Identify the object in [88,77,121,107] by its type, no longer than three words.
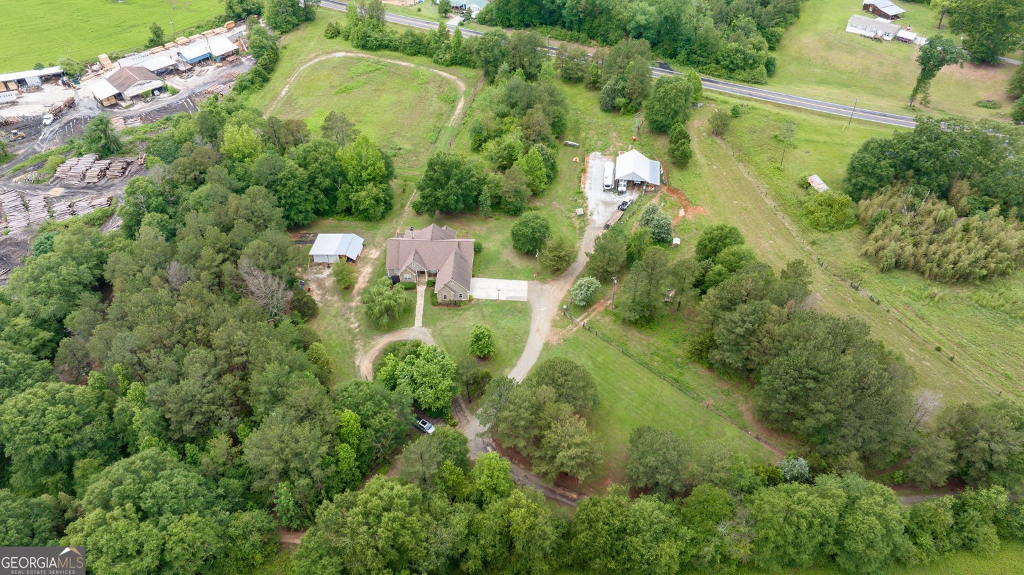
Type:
shed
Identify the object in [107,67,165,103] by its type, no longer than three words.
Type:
building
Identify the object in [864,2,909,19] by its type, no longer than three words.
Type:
barn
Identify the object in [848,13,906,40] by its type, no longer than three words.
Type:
house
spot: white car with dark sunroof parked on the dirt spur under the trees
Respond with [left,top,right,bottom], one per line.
[409,413,437,437]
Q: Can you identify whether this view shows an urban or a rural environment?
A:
rural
